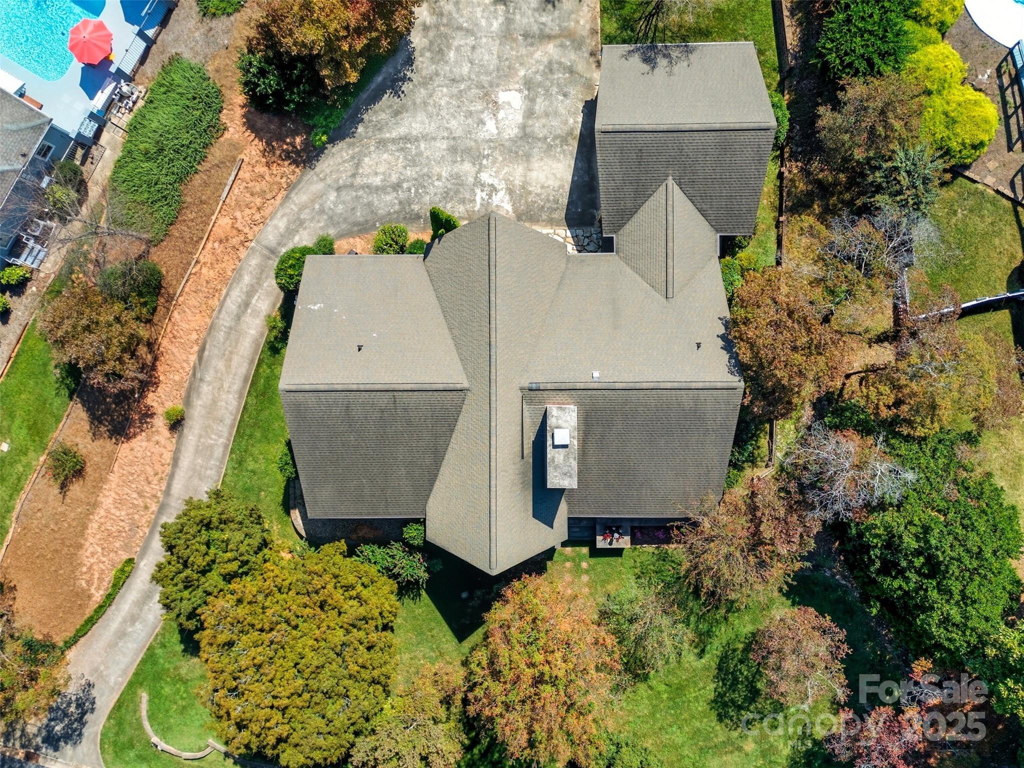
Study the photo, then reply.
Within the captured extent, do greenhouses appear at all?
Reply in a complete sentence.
No, the photo shows no greenhouse.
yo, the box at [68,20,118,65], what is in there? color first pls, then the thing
red umbrella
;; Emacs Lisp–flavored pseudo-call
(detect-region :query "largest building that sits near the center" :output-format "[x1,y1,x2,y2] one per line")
[278,177,745,576]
